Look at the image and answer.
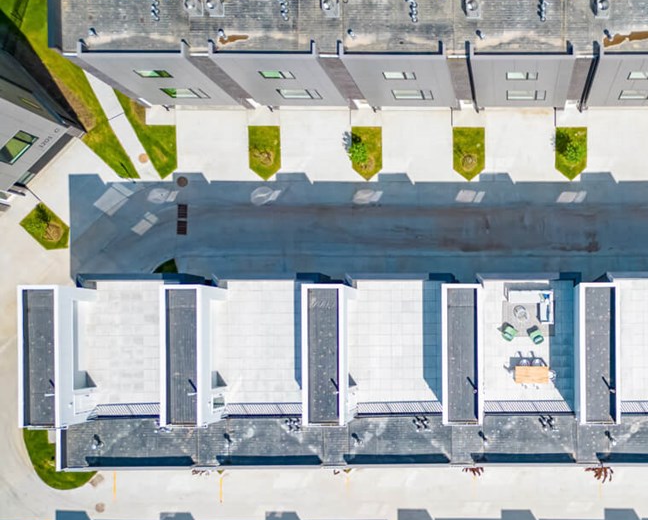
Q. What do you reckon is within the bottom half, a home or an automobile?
home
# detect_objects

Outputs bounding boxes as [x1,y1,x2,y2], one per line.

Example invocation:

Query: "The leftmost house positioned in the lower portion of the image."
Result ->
[18,273,218,473]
